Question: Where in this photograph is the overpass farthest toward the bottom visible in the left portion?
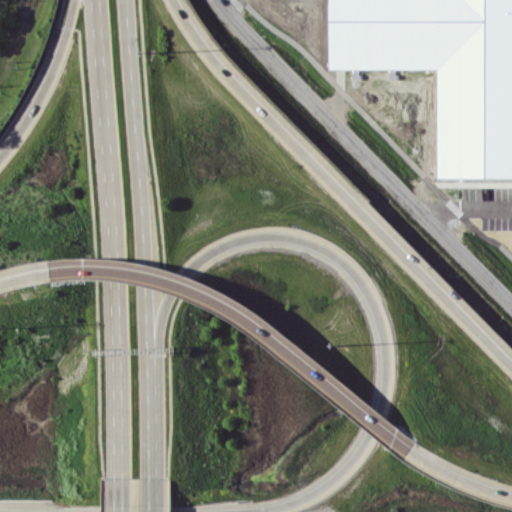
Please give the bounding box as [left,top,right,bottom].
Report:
[102,478,172,512]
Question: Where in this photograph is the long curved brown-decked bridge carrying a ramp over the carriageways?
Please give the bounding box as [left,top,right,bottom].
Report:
[48,258,414,461]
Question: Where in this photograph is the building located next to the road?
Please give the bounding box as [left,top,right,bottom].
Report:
[328,0,512,180]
